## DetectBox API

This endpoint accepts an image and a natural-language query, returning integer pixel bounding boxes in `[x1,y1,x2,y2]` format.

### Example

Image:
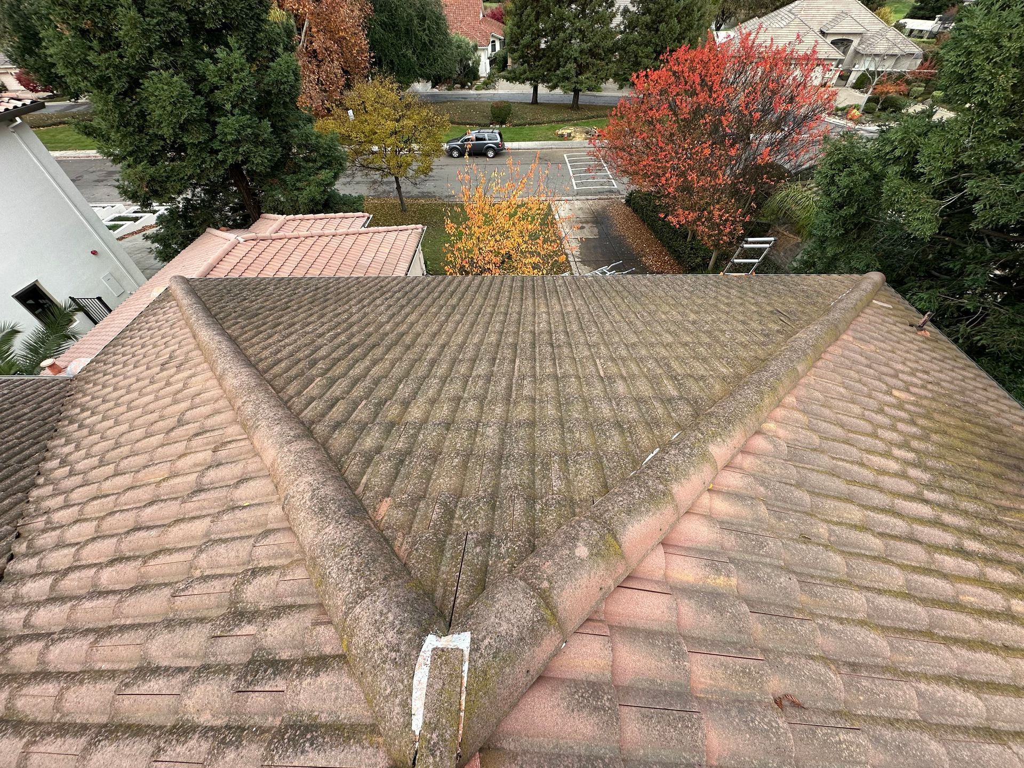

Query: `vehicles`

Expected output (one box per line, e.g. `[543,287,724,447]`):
[442,124,506,156]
